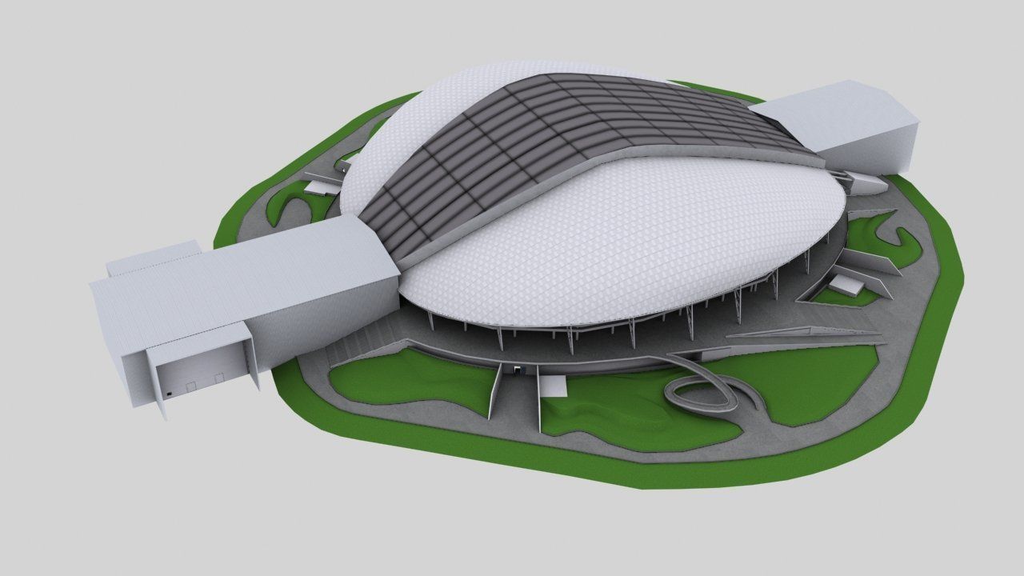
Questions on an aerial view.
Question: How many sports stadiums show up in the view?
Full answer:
The picture shows 1 sports stadium.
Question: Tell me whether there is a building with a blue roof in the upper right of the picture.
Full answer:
No, no building with a blue roof can be made out in the upper right of the picture.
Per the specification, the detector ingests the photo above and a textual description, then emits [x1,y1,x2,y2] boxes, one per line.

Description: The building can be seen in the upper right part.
[746,80,921,179]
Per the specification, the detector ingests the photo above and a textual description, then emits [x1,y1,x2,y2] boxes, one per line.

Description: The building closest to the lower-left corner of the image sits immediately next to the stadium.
[90,216,403,419]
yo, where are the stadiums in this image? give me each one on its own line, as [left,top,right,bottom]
[338,59,847,355]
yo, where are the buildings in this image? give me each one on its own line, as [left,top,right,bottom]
[90,216,403,419]
[746,80,921,179]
